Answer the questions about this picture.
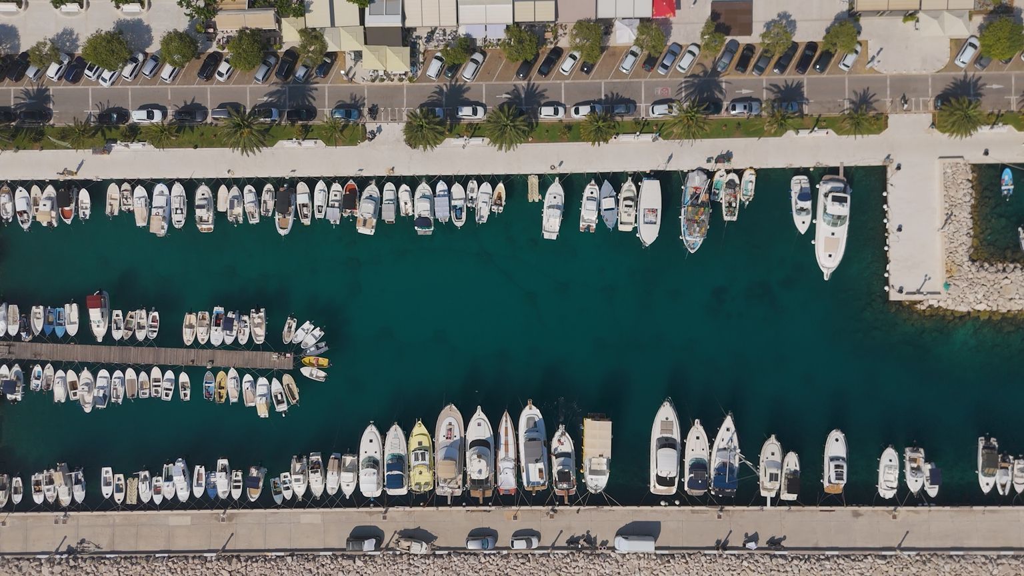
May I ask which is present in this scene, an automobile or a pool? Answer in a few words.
automobile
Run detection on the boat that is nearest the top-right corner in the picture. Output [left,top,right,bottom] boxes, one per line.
[999,168,1013,201]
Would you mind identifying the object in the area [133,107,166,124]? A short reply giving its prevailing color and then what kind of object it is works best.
white car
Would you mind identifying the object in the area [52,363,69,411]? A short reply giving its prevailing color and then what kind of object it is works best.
white boat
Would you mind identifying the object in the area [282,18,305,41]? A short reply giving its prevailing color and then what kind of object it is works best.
white umbrella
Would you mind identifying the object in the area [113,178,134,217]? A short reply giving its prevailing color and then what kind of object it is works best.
gray boat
